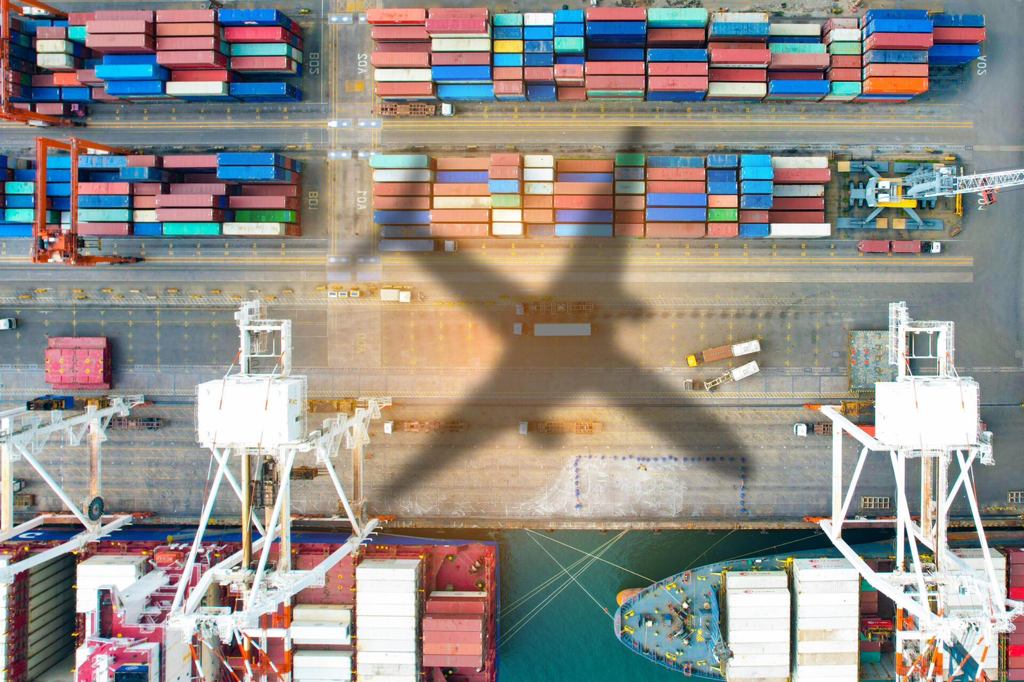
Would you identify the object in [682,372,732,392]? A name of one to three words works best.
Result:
vehicle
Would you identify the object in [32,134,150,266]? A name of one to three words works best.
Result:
container crane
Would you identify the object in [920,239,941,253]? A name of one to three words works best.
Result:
vehicle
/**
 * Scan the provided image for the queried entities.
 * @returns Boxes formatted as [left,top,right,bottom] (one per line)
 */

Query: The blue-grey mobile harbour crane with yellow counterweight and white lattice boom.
[836,160,1024,229]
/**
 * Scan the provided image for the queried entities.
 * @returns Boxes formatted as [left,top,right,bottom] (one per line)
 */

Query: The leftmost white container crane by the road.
[0,310,156,606]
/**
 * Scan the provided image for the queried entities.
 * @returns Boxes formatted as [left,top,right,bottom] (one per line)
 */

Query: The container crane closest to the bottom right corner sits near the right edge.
[801,294,1014,682]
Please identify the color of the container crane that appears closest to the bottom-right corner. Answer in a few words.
white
